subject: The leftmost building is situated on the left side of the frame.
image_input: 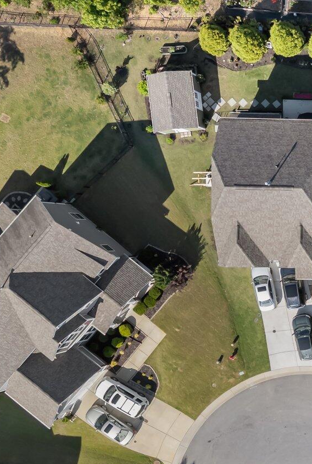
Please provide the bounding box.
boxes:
[0,194,159,430]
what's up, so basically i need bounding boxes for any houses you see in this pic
[211,116,312,280]
[0,194,159,430]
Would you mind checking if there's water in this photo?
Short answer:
No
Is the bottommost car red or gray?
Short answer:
gray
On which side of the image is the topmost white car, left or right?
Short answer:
right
